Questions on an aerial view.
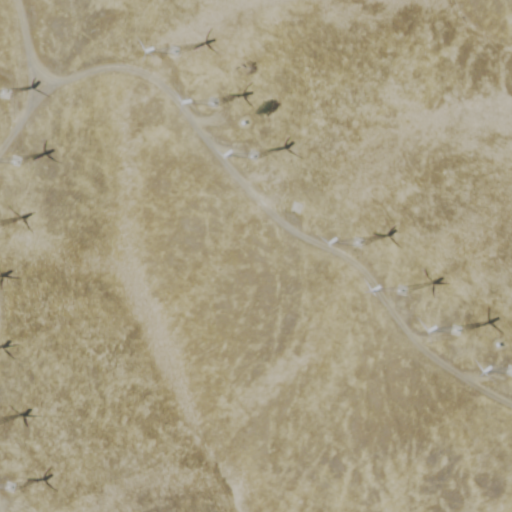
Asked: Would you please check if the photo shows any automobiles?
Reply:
No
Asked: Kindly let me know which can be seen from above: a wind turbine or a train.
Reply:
wind turbine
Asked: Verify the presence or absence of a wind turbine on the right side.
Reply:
Yes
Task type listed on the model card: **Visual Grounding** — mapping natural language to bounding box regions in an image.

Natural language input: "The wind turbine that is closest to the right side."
[476,359,512,384]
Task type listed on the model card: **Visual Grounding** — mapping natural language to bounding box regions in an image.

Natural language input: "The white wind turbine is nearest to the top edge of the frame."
[141,36,180,63]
